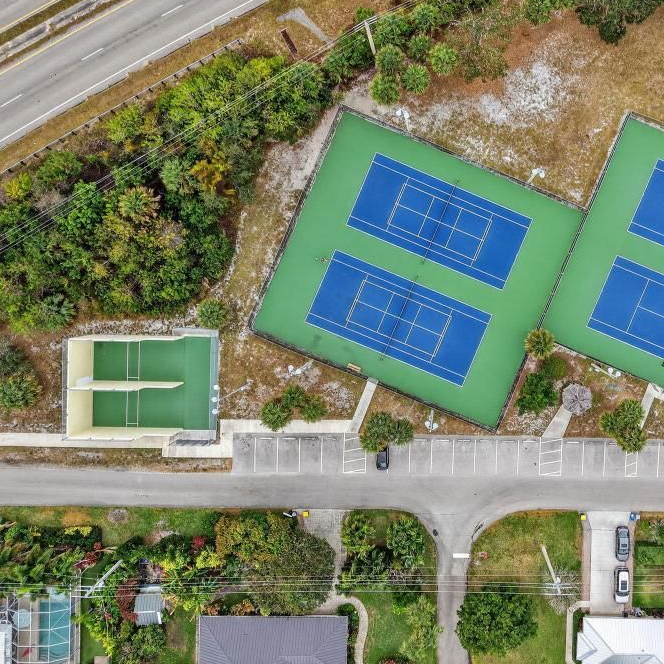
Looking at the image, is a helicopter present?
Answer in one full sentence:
No, there is no helicopter in the image.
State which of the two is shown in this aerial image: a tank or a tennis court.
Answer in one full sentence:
This aerial view contains a tennis court.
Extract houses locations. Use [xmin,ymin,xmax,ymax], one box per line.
[583,613,664,664]
[198,612,348,664]
[0,624,13,664]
